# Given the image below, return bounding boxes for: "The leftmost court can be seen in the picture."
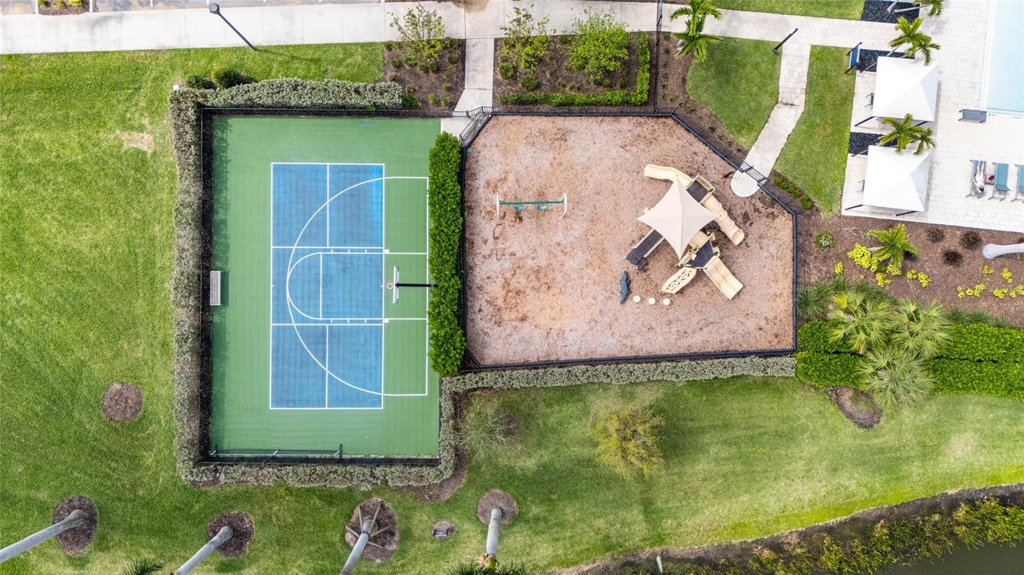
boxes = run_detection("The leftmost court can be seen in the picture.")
[212,117,440,456]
